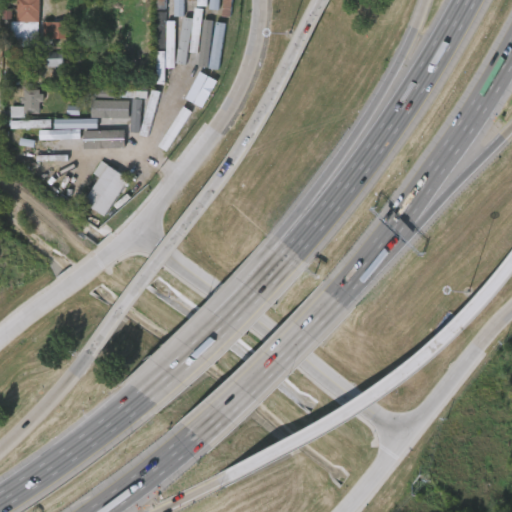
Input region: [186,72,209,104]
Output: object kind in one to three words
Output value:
house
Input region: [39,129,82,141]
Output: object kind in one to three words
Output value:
house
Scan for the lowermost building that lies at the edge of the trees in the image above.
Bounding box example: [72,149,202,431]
[90,172,120,216]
